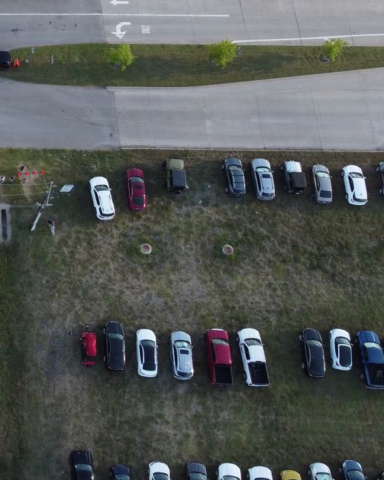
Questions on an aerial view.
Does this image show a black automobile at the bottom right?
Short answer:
Yes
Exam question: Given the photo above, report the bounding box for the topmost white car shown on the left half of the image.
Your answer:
[88,178,116,223]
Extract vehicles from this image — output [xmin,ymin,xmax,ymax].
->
[182,462,210,480]
[135,330,160,380]
[79,333,99,365]
[101,322,128,374]
[306,166,335,207]
[0,48,13,70]
[88,178,116,223]
[354,331,384,390]
[339,166,370,208]
[168,331,196,382]
[109,464,131,480]
[249,159,279,203]
[340,460,370,480]
[247,464,274,480]
[215,462,242,480]
[221,158,248,201]
[236,328,274,388]
[306,463,334,480]
[204,328,236,388]
[123,168,148,214]
[326,330,355,374]
[68,449,97,480]
[145,462,173,480]
[279,470,303,480]
[373,162,384,199]
[297,328,329,380]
